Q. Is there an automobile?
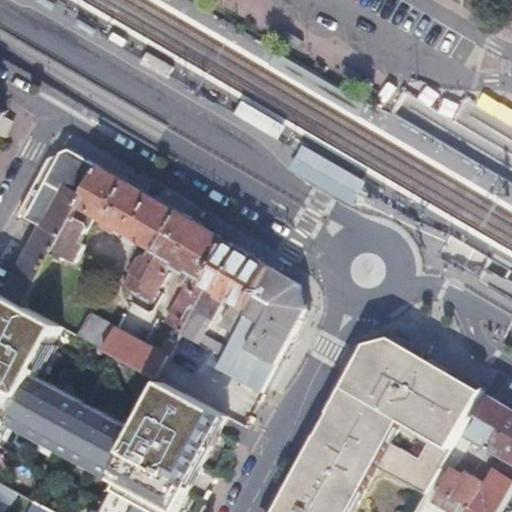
Yes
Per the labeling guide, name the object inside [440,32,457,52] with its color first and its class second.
white car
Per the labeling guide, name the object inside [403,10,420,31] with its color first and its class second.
white car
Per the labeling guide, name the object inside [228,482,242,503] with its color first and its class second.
gray car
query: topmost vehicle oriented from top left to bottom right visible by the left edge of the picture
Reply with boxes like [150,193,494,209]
[10,75,31,92]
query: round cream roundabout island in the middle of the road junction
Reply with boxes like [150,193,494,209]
[350,251,386,288]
